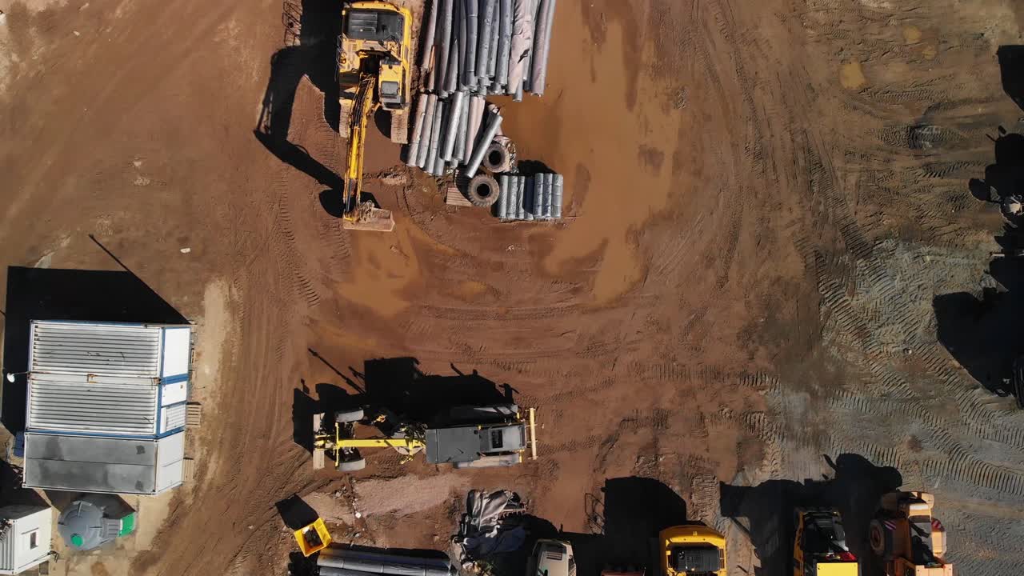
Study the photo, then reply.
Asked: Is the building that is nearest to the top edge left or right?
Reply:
left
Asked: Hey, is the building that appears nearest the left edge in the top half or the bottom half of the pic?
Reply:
bottom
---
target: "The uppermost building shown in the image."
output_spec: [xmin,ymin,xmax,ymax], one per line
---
[30,319,192,381]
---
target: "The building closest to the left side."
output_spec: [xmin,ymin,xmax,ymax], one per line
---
[0,506,58,575]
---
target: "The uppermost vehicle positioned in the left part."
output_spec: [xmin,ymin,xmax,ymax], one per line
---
[337,2,413,229]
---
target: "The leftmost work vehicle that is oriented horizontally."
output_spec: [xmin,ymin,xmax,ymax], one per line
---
[312,405,538,473]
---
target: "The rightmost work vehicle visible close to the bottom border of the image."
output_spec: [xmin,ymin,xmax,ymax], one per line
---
[869,489,953,576]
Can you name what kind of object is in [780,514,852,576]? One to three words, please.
work vehicle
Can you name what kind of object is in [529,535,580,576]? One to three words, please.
truck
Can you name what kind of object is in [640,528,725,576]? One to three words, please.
work vehicle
